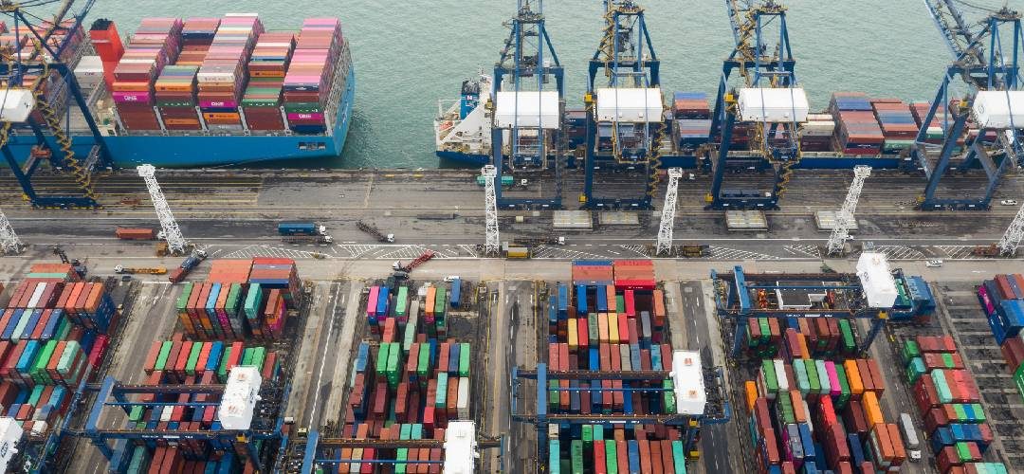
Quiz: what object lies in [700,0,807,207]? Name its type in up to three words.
container crane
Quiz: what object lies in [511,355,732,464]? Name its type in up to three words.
container crane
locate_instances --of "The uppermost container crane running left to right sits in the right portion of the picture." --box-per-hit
[706,258,913,358]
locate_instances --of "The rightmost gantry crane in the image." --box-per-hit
[905,0,1024,207]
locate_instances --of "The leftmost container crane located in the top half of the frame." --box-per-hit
[0,0,119,207]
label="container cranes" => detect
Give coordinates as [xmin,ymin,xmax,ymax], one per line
[700,0,807,207]
[905,0,1024,207]
[511,355,732,464]
[0,0,119,207]
[484,0,573,207]
[62,370,299,474]
[706,258,913,358]
[577,0,670,207]
[278,423,511,474]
